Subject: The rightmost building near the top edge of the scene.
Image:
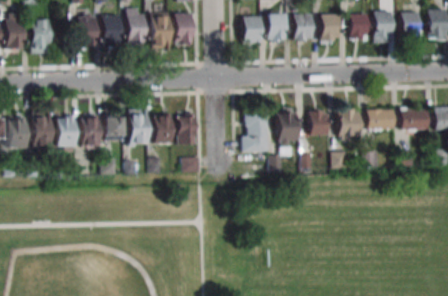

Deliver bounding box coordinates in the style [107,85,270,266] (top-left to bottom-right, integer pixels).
[424,10,448,42]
